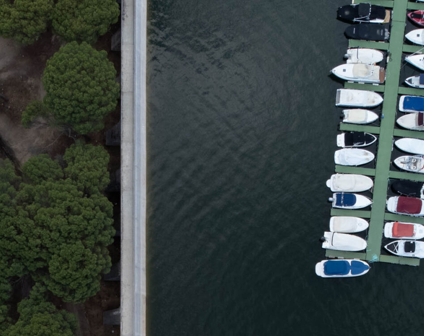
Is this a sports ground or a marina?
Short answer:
marina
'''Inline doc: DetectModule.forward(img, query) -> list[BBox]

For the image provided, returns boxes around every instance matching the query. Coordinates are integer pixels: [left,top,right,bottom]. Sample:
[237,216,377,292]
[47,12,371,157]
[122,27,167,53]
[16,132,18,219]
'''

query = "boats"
[329,217,371,232]
[390,156,424,174]
[335,149,376,167]
[335,133,377,149]
[402,30,424,46]
[386,197,424,217]
[320,233,368,253]
[335,90,384,110]
[387,180,424,197]
[329,194,374,209]
[345,48,389,64]
[395,138,424,153]
[338,2,392,25]
[395,113,424,132]
[401,48,424,73]
[340,109,380,124]
[404,12,424,26]
[345,25,392,44]
[383,222,424,240]
[396,92,424,114]
[383,241,424,256]
[327,175,374,192]
[331,64,386,84]
[399,77,424,88]
[315,259,371,277]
